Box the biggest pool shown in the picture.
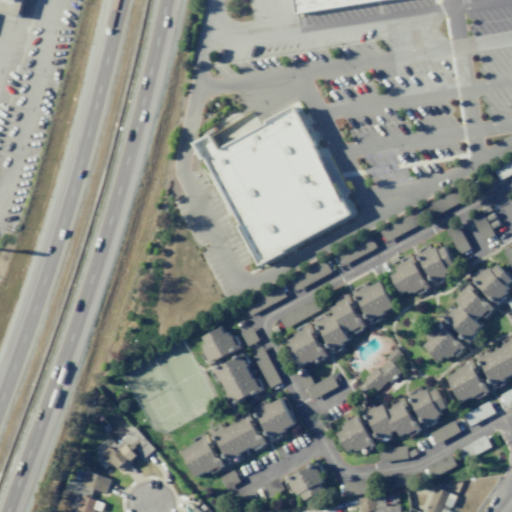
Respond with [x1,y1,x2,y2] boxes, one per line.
[360,338,382,362]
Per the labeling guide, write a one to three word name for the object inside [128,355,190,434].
tennis court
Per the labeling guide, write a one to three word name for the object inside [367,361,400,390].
building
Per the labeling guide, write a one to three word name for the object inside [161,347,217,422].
basketball court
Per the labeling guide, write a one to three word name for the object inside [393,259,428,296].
house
